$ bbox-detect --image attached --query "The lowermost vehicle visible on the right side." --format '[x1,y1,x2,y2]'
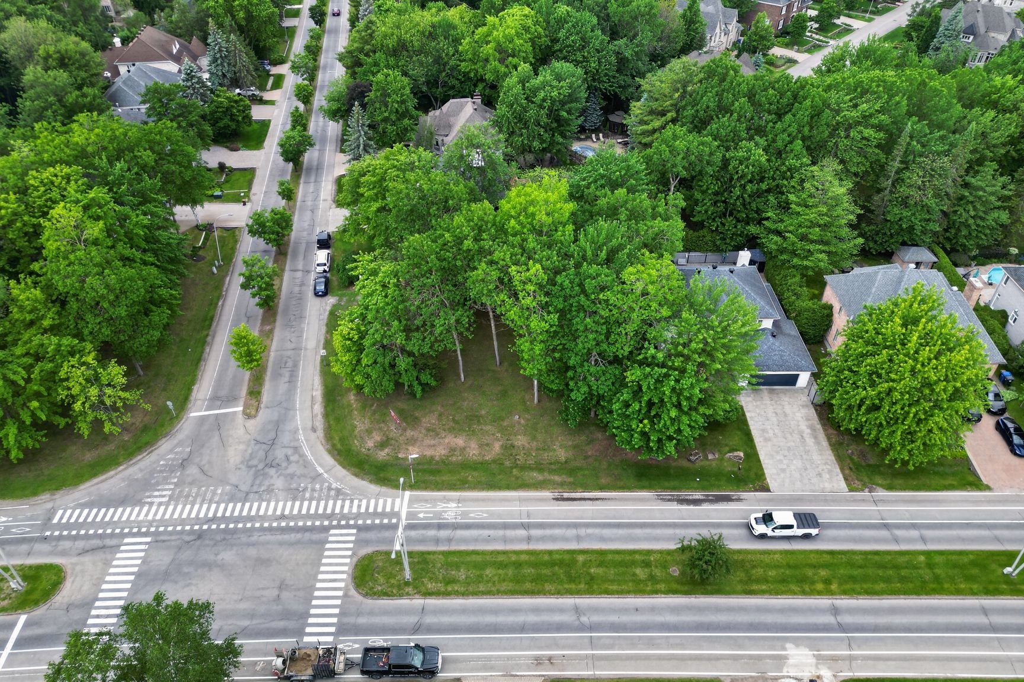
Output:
[744,506,822,537]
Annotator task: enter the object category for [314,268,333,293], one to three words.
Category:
car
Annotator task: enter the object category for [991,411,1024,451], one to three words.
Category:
car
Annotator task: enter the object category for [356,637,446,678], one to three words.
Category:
truck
